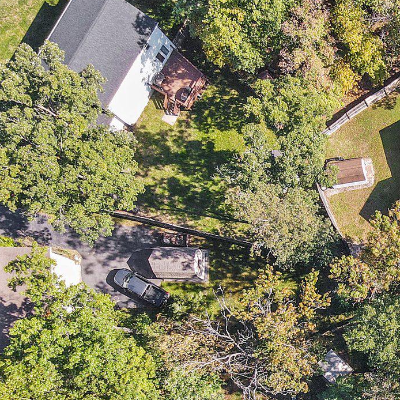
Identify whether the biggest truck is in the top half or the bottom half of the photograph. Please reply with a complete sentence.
It is in the bottom half that the biggest truck appears.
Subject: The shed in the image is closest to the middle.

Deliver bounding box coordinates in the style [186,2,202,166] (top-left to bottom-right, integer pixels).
[149,249,207,282]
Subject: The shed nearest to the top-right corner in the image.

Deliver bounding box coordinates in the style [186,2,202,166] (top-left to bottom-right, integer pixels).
[325,157,370,193]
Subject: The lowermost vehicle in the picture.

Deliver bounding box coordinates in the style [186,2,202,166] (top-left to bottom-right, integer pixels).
[114,266,169,309]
